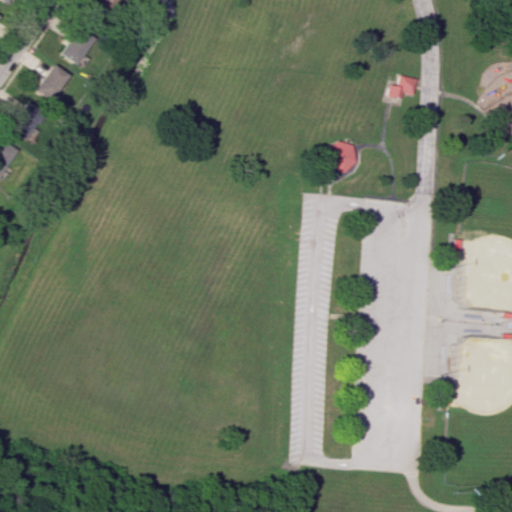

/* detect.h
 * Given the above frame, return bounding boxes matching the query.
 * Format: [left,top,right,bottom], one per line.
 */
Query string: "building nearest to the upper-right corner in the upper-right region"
[386,74,420,98]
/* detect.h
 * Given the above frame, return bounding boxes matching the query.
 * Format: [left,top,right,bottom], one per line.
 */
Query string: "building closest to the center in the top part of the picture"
[328,141,358,175]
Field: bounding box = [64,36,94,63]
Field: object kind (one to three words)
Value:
house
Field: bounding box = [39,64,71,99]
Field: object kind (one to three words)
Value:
house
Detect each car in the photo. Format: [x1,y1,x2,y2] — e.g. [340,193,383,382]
[36,66,45,74]
[9,62,17,72]
[42,62,51,70]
